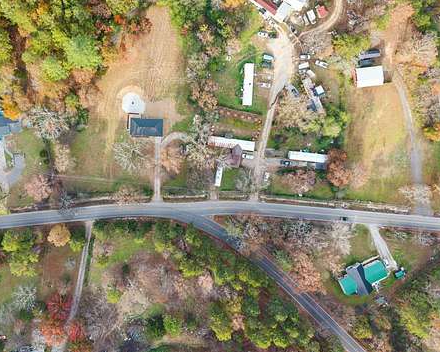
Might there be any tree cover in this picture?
Yes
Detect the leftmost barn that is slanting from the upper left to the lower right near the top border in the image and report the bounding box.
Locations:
[245,0,279,25]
